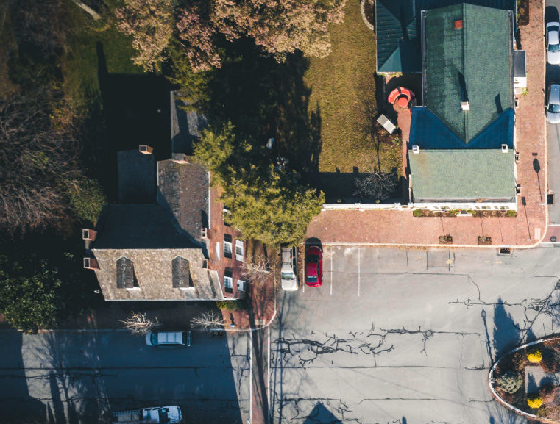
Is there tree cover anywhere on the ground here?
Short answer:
Yes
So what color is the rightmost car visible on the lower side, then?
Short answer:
red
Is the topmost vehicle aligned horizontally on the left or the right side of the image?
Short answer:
left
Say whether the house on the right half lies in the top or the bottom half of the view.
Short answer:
top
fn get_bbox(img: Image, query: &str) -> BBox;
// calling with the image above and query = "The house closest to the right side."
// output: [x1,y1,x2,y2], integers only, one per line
[376,0,528,219]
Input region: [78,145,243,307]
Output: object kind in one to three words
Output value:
house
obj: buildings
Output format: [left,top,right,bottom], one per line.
[78,145,243,307]
[376,0,528,219]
